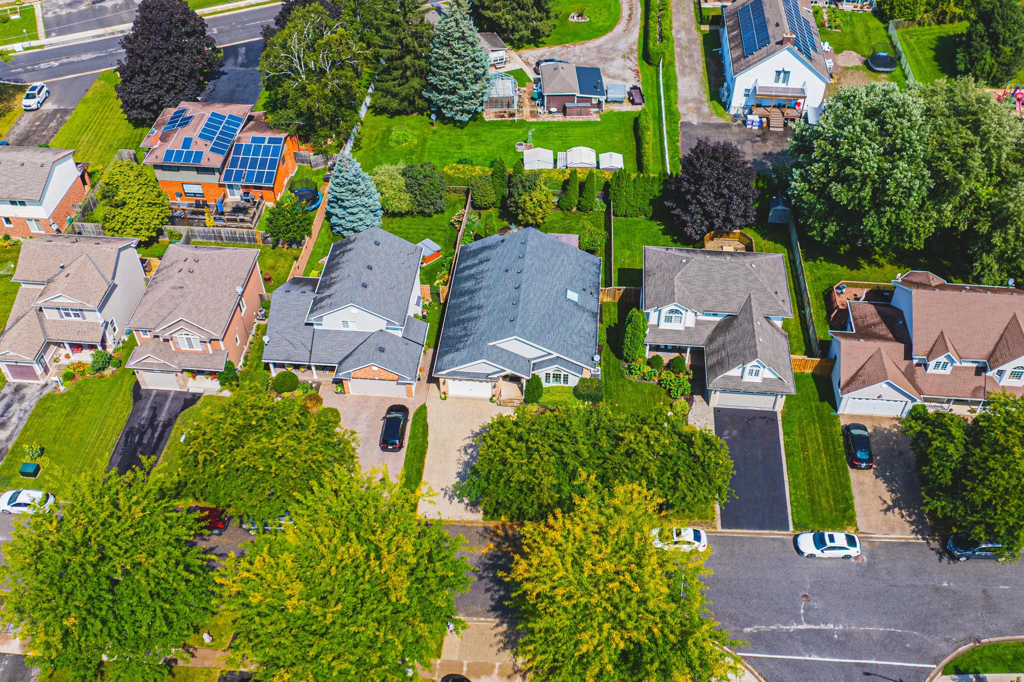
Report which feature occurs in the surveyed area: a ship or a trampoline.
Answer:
trampoline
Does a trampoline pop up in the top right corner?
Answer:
Yes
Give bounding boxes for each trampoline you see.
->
[287,180,324,211]
[865,44,898,74]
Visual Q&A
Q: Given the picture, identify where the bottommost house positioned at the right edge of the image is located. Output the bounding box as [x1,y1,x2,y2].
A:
[824,267,1024,422]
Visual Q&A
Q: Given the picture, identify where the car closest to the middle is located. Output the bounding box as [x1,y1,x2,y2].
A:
[379,402,409,448]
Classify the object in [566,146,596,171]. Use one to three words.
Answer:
shed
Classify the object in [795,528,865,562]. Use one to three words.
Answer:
car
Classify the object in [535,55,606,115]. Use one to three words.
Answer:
building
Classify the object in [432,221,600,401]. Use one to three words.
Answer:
house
